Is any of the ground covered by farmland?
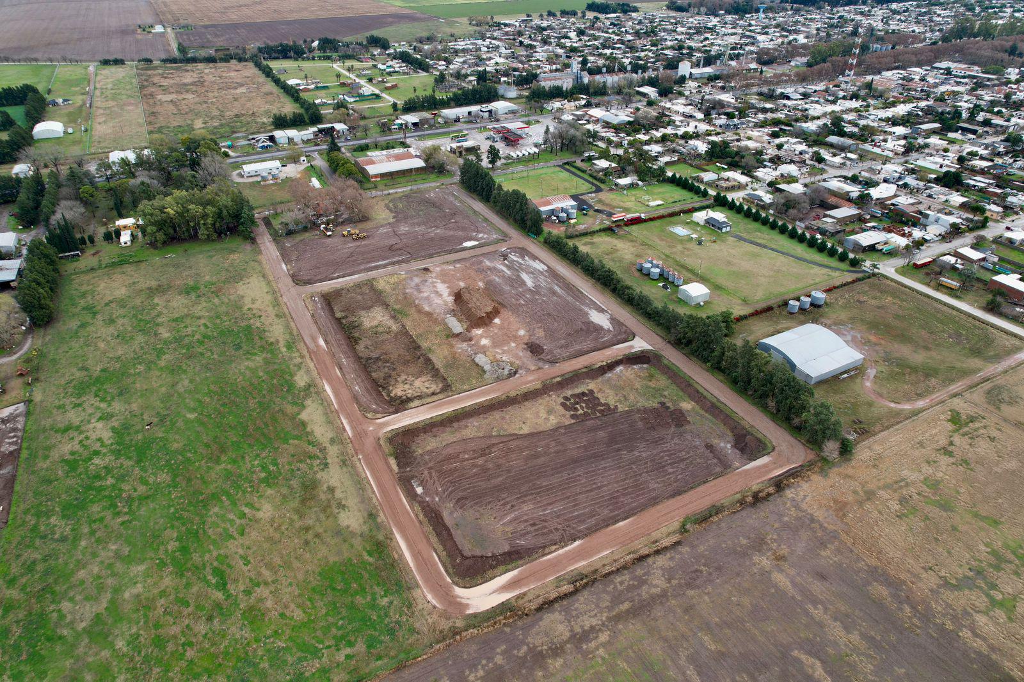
Yes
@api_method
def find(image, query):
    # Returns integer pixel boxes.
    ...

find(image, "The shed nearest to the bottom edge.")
[760,324,864,384]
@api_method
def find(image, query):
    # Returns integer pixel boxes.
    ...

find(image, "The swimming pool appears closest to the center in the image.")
[666,225,696,237]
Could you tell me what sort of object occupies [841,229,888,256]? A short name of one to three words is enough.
shed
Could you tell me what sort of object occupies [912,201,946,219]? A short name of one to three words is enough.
house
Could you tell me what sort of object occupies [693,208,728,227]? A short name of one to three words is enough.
house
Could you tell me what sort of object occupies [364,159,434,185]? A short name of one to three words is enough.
building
